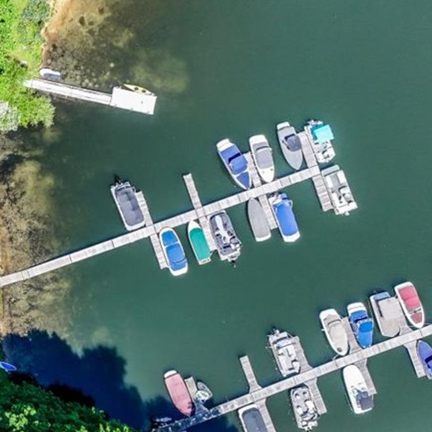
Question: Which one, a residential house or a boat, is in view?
boat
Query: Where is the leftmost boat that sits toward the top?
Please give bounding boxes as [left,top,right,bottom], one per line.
[40,68,62,81]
